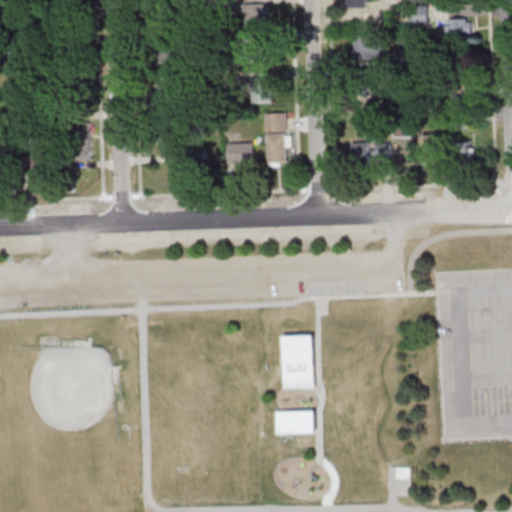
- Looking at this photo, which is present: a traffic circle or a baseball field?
baseball field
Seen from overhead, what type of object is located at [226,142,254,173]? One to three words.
house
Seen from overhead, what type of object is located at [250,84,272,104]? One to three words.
house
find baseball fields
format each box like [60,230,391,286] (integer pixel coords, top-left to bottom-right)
[30,346,114,431]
